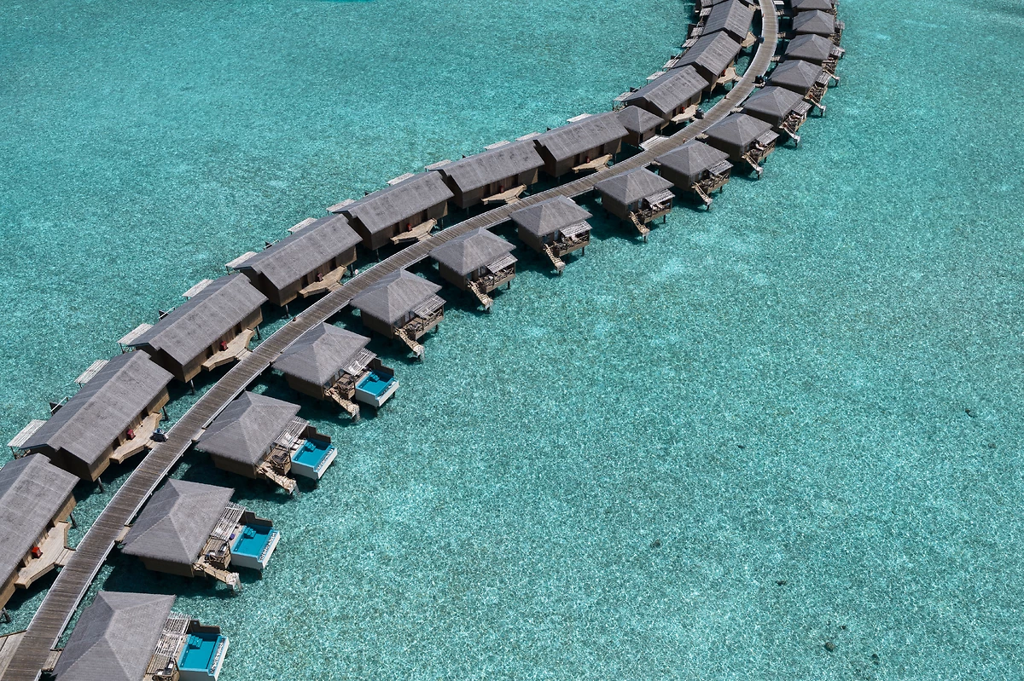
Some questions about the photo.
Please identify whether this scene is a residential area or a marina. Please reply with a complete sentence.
What you see here is a residential area.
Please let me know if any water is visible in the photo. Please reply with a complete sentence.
Yes, water can be seen from above here.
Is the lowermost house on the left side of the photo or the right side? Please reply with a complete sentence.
The lowermost house is on the left side of the image.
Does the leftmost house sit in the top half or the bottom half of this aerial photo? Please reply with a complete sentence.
You can find the leftmost house in the bottom half.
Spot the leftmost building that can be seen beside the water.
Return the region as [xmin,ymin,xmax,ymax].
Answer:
[0,453,80,602]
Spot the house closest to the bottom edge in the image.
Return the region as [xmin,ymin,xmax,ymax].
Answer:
[55,591,226,681]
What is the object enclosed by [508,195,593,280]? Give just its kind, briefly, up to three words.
house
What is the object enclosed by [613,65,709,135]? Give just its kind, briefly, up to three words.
house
